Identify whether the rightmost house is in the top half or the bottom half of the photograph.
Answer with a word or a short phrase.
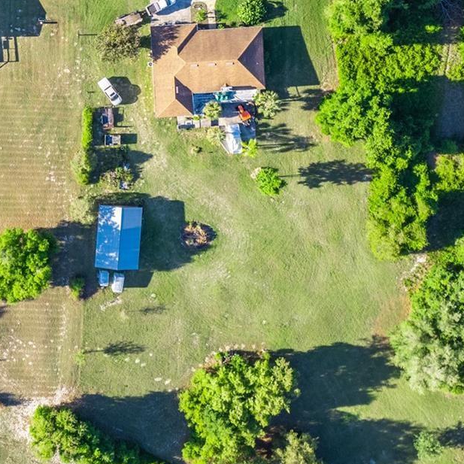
top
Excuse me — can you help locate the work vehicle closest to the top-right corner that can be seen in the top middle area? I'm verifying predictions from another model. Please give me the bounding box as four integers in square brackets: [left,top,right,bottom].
[236,102,254,125]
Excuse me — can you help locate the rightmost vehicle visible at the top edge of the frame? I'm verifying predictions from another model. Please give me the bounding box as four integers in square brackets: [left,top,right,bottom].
[144,0,176,18]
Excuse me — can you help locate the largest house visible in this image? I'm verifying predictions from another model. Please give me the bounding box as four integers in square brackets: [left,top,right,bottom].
[150,23,264,119]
